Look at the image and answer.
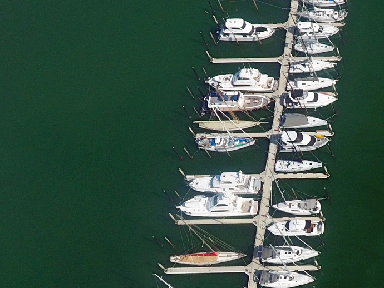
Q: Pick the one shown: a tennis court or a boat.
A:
boat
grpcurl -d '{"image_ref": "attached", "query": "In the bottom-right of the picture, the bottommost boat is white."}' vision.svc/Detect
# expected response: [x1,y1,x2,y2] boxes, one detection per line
[256,245,316,288]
